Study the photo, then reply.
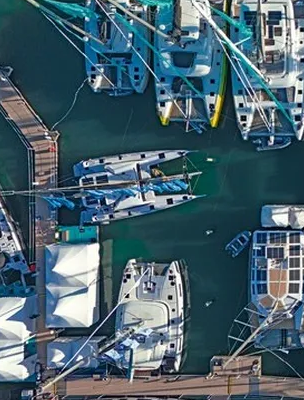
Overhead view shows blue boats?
Yes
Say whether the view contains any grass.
No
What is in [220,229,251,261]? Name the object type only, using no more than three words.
boat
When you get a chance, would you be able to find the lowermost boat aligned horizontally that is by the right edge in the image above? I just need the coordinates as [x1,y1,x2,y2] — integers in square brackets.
[253,135,292,151]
